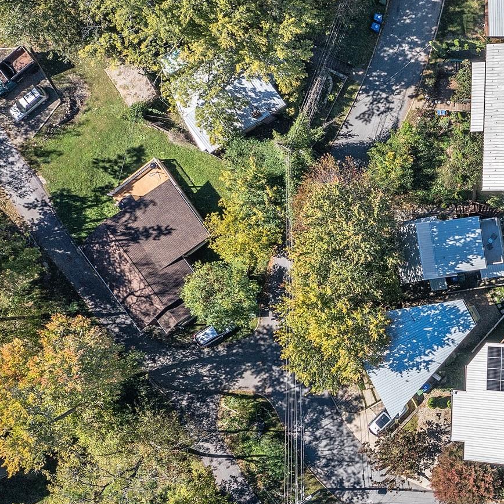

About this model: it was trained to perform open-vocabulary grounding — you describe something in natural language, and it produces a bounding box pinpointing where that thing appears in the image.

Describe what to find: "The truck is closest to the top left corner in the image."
[0,43,48,100]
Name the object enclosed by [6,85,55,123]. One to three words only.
car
